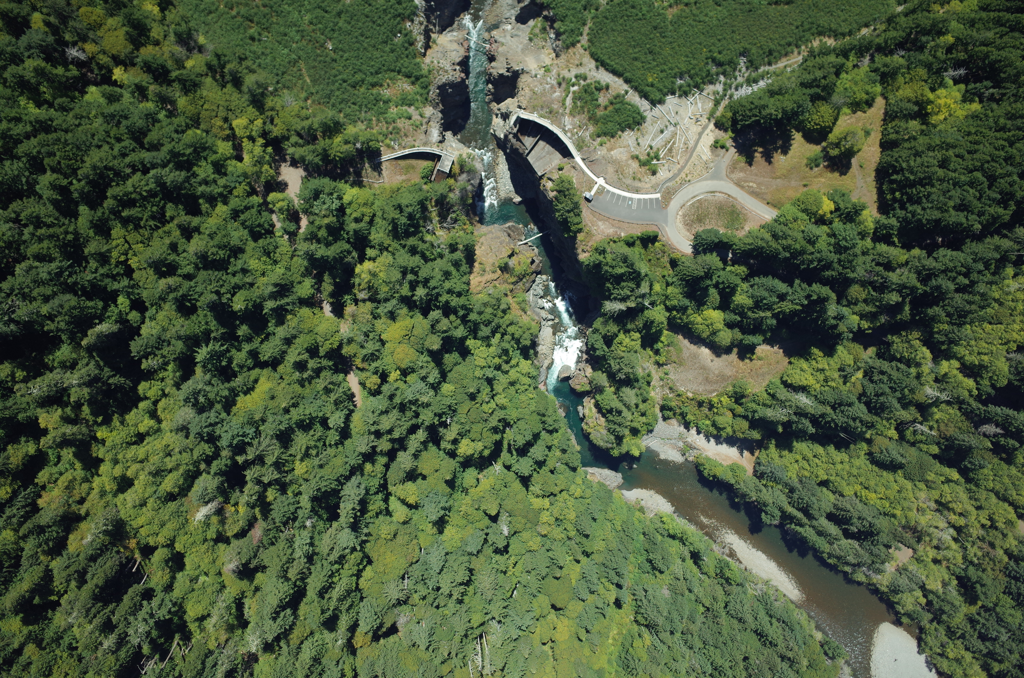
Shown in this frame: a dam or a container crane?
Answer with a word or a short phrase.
dam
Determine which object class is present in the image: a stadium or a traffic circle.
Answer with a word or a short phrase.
traffic circle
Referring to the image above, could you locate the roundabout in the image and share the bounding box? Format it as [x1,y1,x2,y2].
[667,179,777,259]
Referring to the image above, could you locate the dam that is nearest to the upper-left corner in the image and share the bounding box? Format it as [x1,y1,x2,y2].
[384,146,455,184]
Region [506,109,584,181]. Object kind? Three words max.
dam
